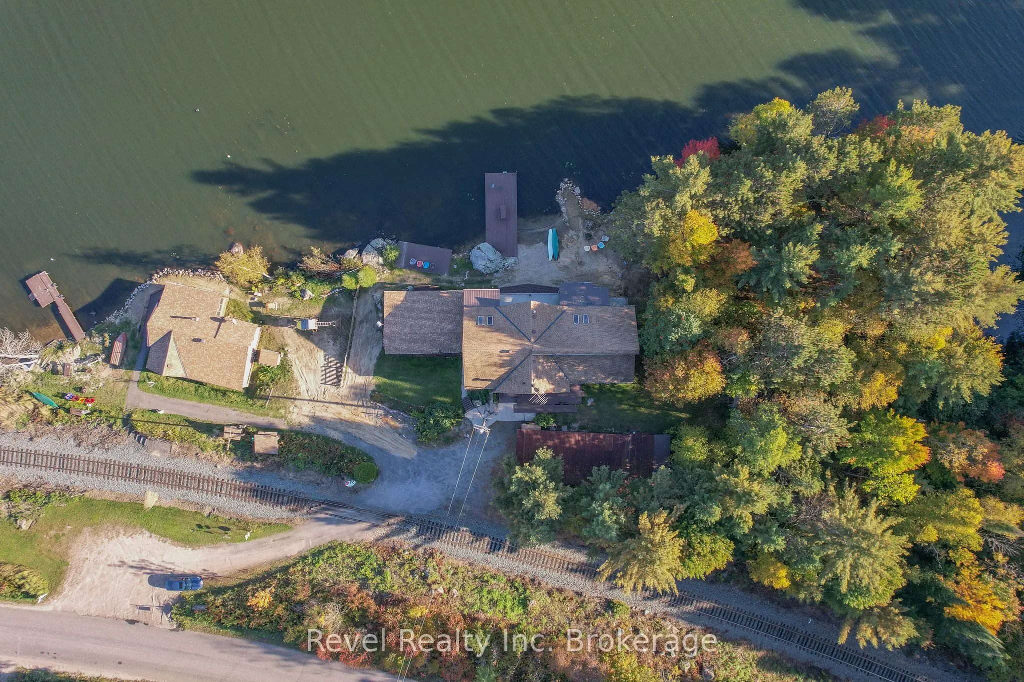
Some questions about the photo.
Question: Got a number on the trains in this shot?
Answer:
zero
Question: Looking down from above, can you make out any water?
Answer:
Yes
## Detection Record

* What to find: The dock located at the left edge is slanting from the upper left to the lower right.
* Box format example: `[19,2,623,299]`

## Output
[23,271,86,342]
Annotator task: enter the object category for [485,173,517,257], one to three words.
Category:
pier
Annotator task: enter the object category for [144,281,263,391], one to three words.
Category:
house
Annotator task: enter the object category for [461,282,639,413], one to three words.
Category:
house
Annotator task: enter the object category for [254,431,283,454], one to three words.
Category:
shed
